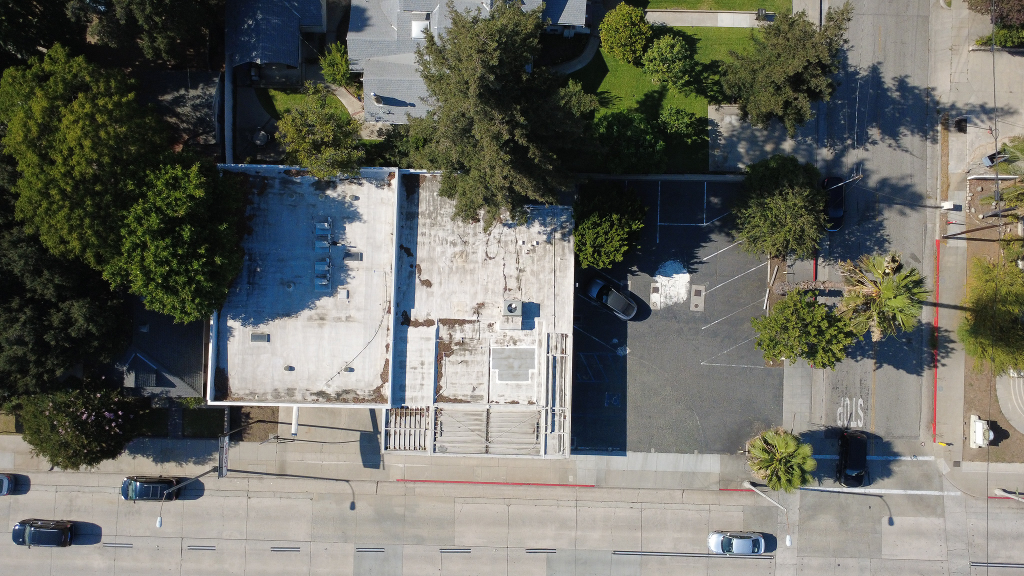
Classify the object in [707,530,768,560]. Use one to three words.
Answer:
car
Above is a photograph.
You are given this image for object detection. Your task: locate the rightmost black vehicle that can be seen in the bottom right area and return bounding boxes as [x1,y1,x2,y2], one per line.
[833,429,866,488]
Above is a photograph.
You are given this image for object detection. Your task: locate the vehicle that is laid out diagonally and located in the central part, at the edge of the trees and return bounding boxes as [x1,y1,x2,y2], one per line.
[582,277,637,326]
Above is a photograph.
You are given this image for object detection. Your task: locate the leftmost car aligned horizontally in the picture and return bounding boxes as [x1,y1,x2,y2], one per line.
[11,518,75,550]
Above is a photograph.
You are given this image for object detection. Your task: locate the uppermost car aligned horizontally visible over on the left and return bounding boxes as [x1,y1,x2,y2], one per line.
[123,475,181,504]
